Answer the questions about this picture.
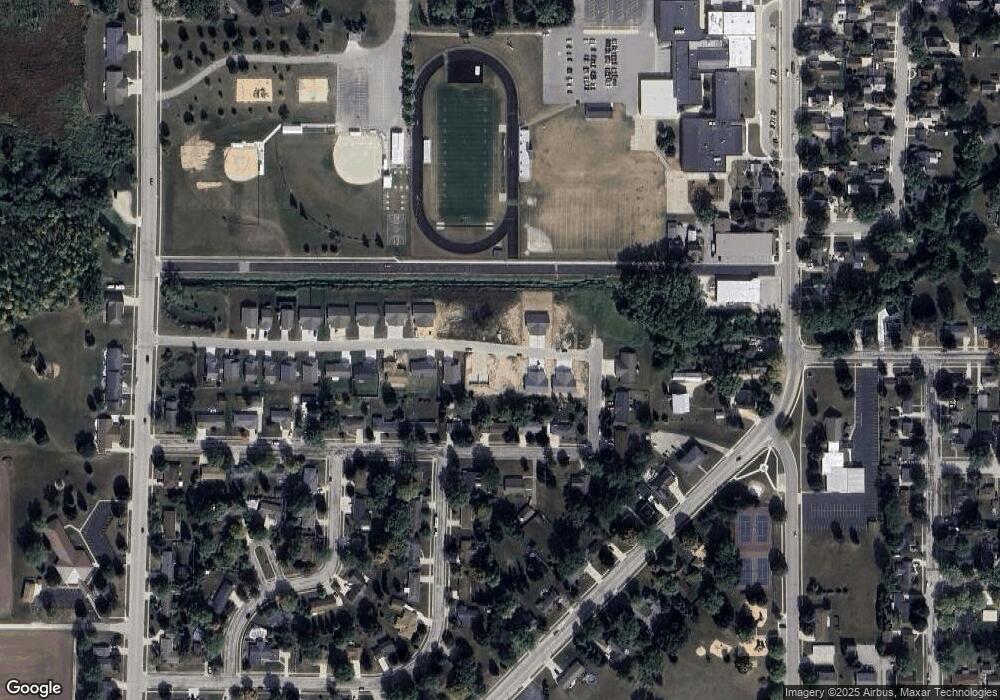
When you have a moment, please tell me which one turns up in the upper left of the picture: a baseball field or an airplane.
baseball field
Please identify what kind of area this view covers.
residential area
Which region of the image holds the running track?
top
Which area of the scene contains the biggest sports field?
top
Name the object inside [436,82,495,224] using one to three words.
sports field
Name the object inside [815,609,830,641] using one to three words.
house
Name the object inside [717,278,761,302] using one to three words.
building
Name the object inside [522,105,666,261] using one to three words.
sports field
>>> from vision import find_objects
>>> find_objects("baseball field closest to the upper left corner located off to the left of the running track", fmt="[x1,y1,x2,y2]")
[224,144,260,182]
